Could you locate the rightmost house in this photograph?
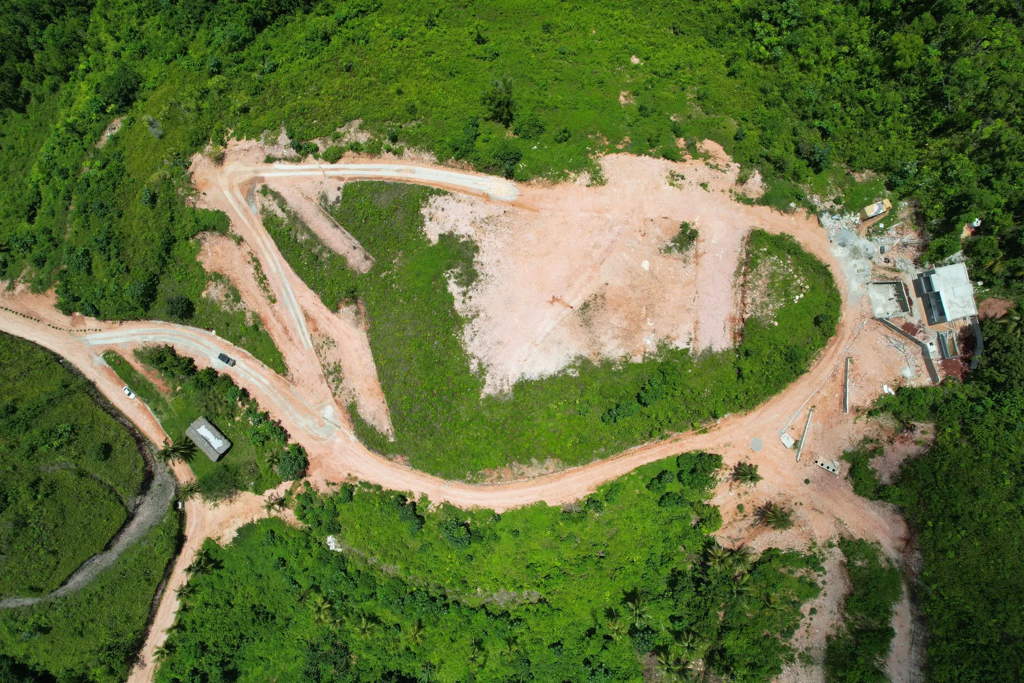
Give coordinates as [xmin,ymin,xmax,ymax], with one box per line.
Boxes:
[912,263,978,323]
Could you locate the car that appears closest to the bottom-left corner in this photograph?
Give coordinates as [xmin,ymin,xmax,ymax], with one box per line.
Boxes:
[122,385,137,399]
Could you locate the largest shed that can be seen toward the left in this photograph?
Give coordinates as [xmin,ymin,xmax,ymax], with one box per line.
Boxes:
[188,416,232,461]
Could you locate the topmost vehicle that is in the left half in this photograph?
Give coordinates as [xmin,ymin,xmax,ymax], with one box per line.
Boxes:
[219,352,237,366]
